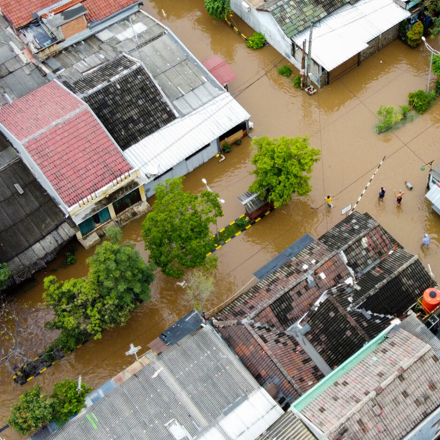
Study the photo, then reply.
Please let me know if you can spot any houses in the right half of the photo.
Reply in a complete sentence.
Yes, the scene does show a house in the right half of the photo.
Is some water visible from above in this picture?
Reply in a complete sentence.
Yes, there's water in this view.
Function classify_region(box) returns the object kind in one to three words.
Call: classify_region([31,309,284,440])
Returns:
house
